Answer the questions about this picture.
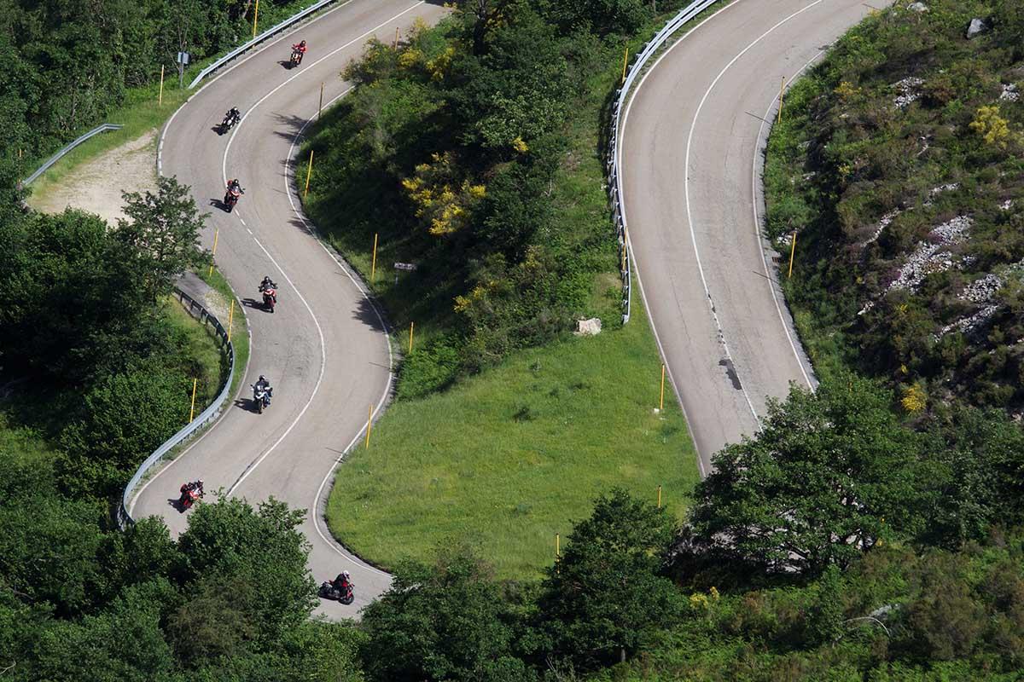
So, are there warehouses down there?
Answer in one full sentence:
No, the picture doesn't show any warehouse.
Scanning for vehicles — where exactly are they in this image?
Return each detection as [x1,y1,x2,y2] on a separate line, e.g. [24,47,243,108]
[180,484,207,517]
[288,46,303,67]
[225,187,243,212]
[221,114,239,136]
[259,289,277,316]
[249,387,269,418]
[317,571,356,605]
